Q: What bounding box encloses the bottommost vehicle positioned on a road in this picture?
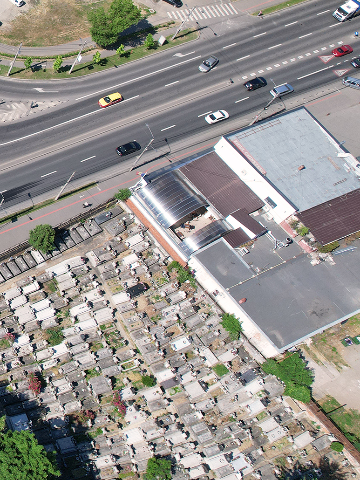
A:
[114,140,142,156]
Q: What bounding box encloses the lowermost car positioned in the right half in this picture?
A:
[203,110,230,124]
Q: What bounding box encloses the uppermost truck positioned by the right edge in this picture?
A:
[334,1,360,26]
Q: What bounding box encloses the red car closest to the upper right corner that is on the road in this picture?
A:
[330,44,355,58]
